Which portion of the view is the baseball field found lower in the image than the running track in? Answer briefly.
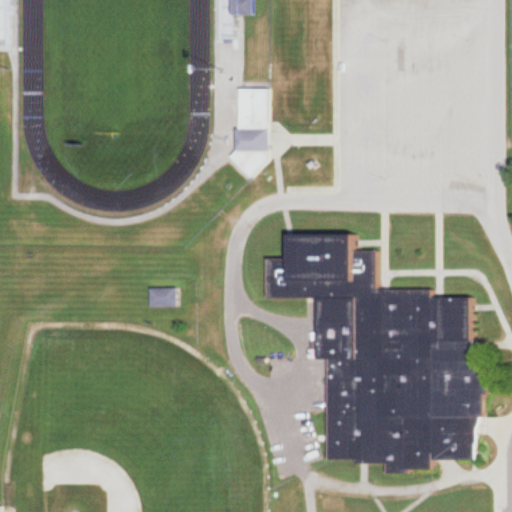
bottom left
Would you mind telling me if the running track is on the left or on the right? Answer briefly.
left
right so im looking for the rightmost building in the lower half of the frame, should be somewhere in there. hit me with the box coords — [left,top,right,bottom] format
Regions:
[264,234,486,473]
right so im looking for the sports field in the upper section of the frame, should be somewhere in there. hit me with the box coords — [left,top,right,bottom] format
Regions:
[43,0,190,191]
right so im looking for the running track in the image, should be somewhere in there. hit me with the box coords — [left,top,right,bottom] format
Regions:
[23,0,210,210]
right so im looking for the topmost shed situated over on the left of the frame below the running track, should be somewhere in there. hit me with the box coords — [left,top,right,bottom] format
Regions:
[149,288,179,308]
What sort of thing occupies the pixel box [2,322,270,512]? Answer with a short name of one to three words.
baseball field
